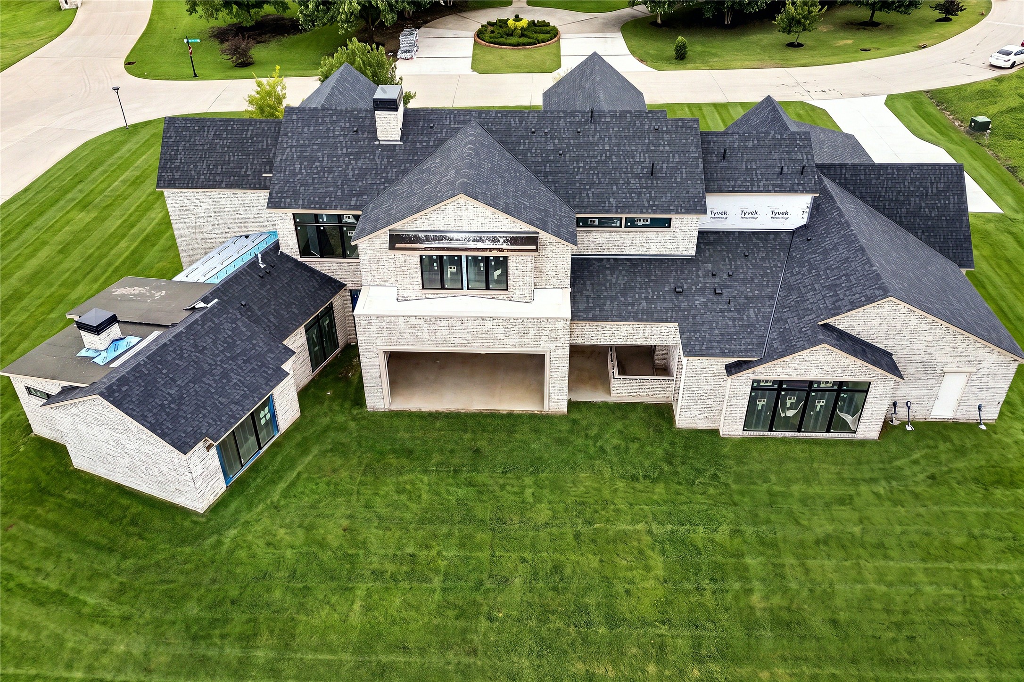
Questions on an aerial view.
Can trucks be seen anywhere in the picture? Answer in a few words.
No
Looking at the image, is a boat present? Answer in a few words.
No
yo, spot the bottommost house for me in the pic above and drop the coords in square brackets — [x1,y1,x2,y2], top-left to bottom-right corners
[0,51,1024,489]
